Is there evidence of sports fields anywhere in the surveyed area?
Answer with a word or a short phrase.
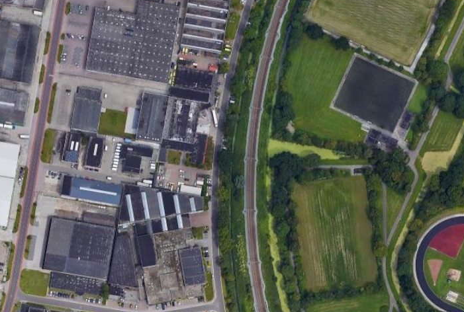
Yes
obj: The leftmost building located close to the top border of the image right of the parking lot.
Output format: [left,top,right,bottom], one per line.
[87,0,180,85]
